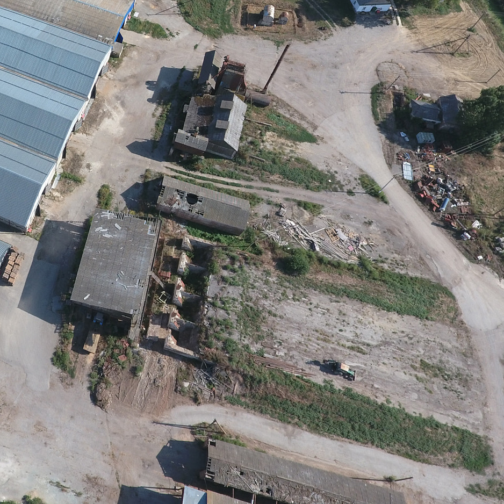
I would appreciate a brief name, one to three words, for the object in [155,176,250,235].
shed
